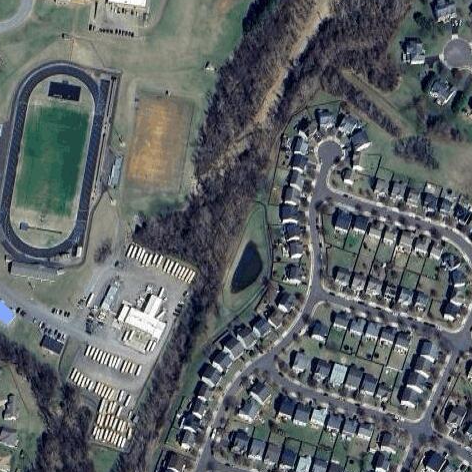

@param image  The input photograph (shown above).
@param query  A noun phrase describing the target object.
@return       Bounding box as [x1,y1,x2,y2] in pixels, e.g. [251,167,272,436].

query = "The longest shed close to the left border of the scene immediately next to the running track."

[11,262,59,280]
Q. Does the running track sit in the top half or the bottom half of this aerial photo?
top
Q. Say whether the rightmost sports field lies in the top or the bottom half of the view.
top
